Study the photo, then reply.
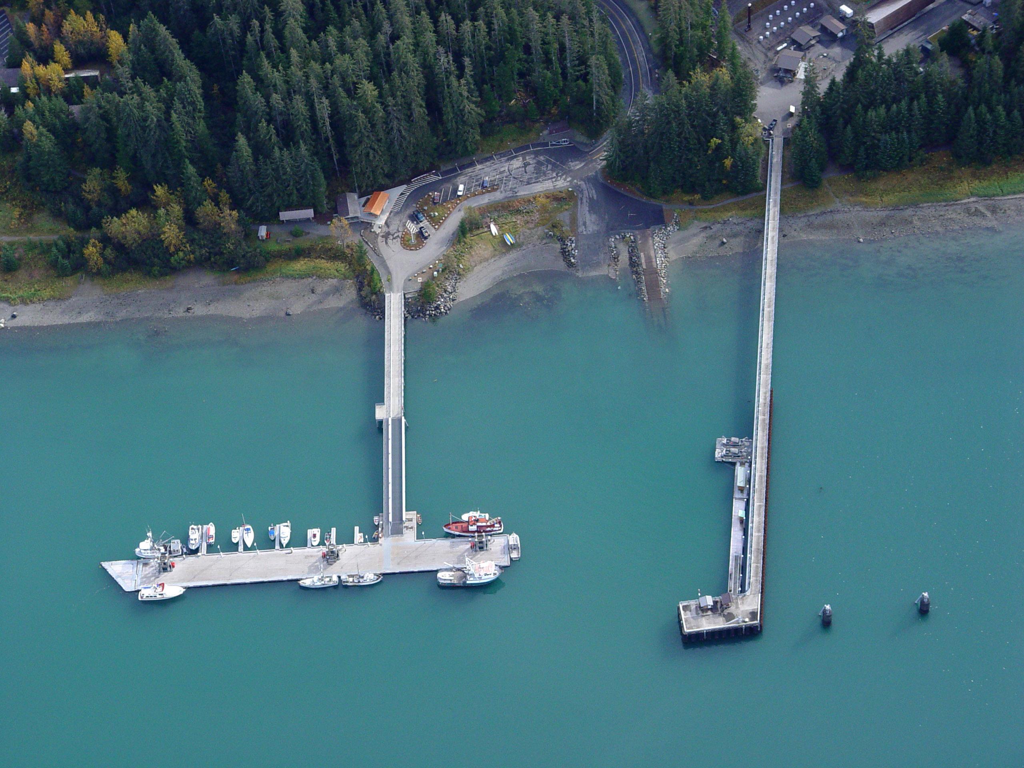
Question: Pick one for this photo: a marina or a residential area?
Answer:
marina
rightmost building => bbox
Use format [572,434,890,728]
[961,2,1001,33]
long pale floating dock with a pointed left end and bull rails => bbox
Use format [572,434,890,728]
[101,534,510,593]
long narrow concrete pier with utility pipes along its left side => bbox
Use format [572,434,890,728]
[745,136,783,595]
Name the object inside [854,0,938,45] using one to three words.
building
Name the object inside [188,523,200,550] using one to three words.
boat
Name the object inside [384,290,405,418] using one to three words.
pier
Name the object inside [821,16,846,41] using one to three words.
shed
